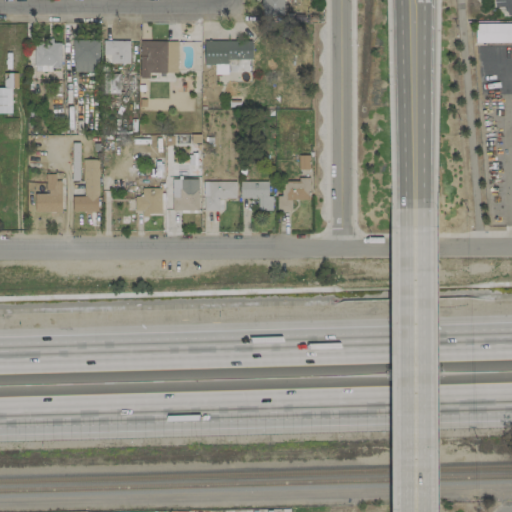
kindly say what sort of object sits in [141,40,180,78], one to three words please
house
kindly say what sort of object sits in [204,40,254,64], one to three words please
house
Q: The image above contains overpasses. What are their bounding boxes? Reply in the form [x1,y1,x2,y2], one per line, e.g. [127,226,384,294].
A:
[388,0,442,512]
